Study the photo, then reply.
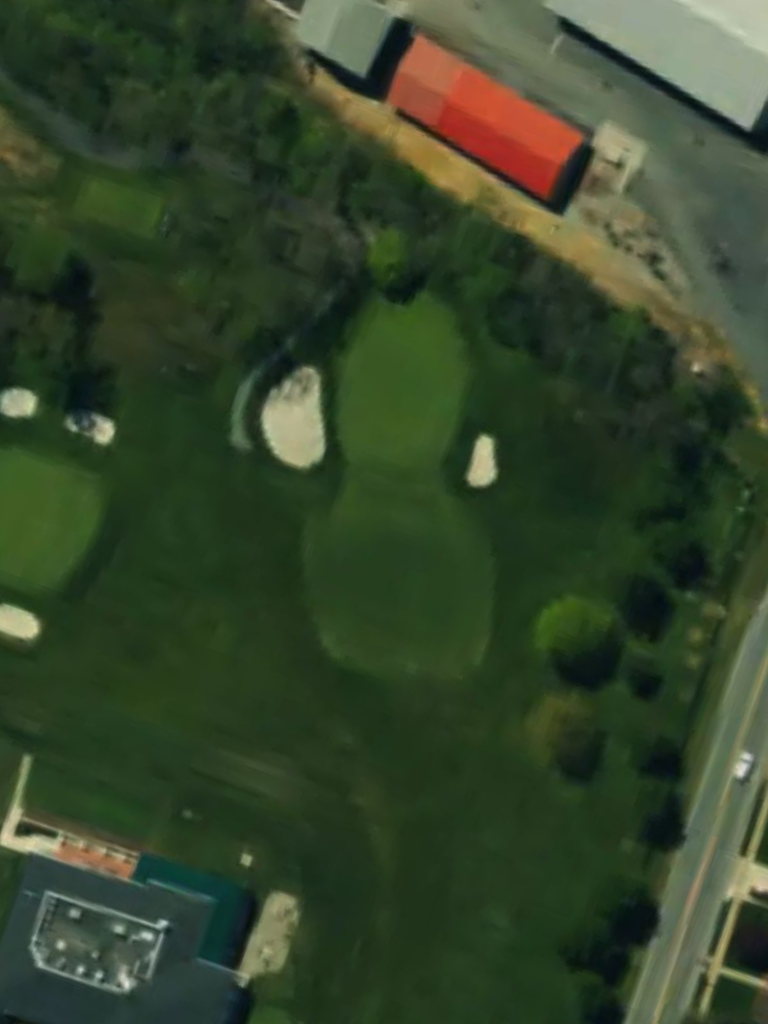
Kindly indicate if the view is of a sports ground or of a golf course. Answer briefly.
golf course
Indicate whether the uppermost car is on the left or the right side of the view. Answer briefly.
right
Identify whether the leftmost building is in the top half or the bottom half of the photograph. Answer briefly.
bottom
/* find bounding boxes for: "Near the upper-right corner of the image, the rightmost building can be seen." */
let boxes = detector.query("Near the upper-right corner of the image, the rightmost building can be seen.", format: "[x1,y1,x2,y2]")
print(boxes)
[544,0,768,132]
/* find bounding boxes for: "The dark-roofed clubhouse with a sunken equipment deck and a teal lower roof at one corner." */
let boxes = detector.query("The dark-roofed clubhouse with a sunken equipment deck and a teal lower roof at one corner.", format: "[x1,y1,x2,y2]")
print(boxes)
[0,854,248,1024]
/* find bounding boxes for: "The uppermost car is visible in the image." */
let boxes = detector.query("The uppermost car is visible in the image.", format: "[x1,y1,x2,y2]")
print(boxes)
[734,751,754,781]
